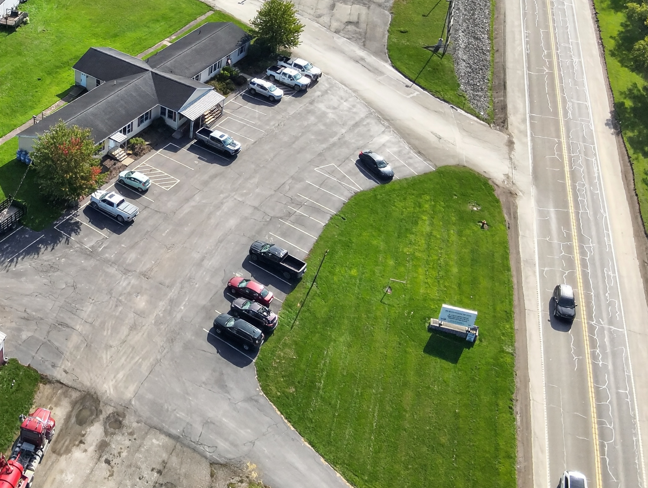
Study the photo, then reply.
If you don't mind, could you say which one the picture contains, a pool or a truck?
truck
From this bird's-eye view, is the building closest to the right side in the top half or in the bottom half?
top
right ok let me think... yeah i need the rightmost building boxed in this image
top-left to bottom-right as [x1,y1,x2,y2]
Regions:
[16,21,252,156]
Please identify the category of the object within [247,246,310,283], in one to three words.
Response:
truck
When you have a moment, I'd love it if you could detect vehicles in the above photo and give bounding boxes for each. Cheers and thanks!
[87,193,142,228]
[13,402,66,488]
[211,319,267,354]
[227,301,282,335]
[354,152,396,183]
[247,246,310,283]
[556,468,586,488]
[115,169,154,194]
[192,125,244,158]
[0,197,31,236]
[263,63,310,91]
[549,281,579,328]
[224,280,279,309]
[276,53,322,79]
[246,75,284,102]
